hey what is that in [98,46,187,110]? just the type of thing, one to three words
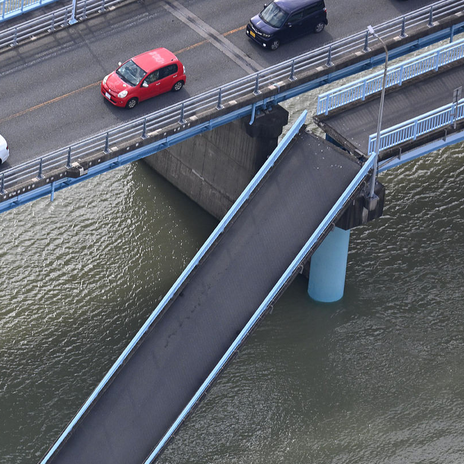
car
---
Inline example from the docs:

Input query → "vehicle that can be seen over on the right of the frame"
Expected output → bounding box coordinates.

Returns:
[245,0,327,51]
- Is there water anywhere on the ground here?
Yes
